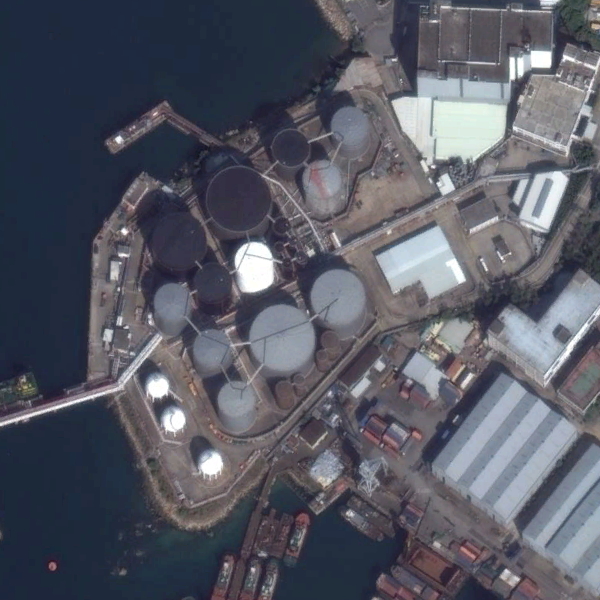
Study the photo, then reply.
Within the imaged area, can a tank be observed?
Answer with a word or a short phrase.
Yes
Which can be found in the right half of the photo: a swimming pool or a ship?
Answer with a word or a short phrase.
ship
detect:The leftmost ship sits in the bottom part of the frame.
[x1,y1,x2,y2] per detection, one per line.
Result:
[0,374,39,405]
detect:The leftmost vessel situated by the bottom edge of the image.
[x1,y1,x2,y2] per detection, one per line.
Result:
[210,554,233,600]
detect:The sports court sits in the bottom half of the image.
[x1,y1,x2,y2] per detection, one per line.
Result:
[558,345,600,414]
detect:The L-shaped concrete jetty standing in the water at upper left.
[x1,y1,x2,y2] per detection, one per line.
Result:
[105,101,224,154]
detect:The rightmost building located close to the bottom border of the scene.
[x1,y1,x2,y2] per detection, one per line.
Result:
[521,442,600,599]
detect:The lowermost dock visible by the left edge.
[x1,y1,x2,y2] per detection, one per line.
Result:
[0,371,121,427]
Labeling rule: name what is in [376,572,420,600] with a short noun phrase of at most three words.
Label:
ship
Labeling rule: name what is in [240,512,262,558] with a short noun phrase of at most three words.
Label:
pier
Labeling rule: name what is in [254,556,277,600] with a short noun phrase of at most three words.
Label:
ship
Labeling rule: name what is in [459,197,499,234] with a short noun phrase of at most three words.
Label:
shed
